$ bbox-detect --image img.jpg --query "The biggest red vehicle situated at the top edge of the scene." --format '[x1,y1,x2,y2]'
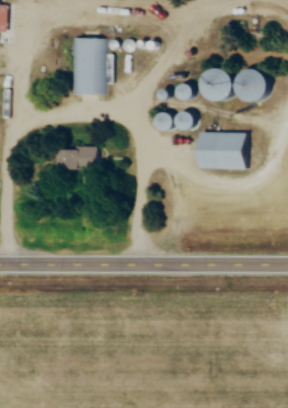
[150,0,170,20]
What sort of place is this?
industrial area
